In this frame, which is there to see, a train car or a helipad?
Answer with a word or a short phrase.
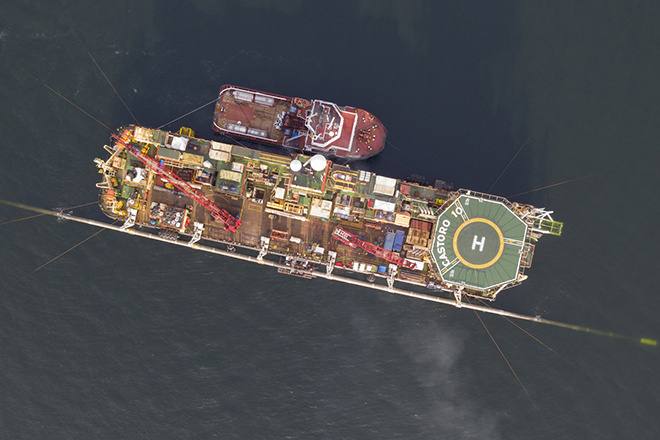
helipad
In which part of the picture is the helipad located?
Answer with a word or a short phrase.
right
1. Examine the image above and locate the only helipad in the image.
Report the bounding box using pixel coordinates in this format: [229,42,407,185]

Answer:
[425,186,535,297]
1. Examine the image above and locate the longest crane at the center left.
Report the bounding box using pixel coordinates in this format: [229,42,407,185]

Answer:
[112,132,247,231]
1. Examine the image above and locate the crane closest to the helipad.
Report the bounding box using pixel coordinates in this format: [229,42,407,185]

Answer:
[331,227,418,271]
